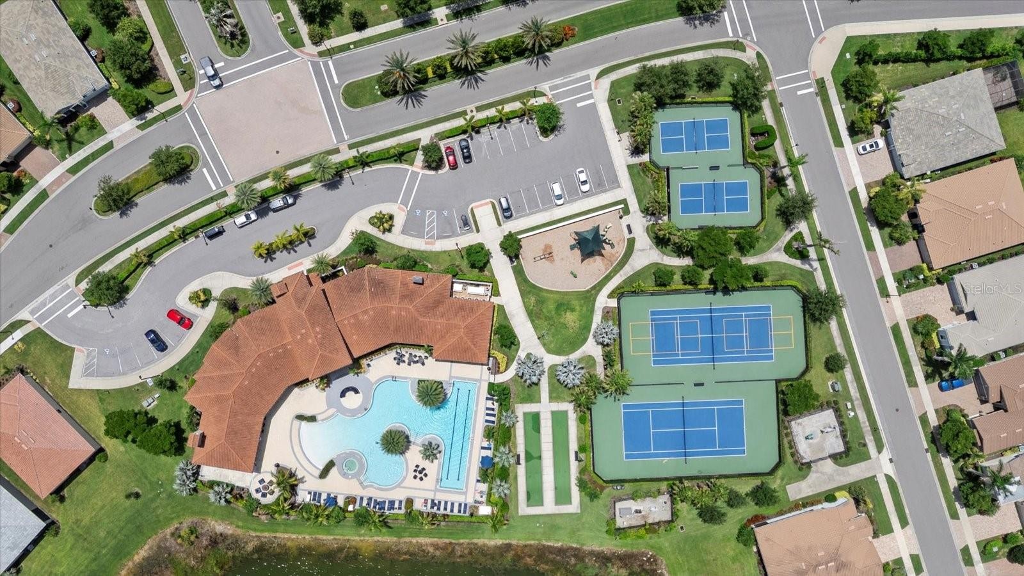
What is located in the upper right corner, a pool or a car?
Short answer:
car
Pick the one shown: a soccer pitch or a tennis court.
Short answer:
tennis court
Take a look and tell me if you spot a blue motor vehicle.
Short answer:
Yes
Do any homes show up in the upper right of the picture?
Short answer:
Yes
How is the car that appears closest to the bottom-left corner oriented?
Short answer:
diagonally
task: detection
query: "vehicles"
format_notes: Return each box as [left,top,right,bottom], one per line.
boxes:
[550,182,564,207]
[498,195,513,221]
[460,214,471,231]
[233,210,260,227]
[576,167,590,194]
[144,329,167,352]
[856,139,883,155]
[202,224,227,239]
[940,376,975,392]
[268,195,297,211]
[459,138,472,164]
[445,146,458,171]
[200,55,223,89]
[167,309,194,329]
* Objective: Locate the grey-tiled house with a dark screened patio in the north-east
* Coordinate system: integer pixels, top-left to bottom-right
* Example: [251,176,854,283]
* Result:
[885,60,1024,179]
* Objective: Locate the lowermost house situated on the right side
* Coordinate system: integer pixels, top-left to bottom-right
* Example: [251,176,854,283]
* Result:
[752,499,886,576]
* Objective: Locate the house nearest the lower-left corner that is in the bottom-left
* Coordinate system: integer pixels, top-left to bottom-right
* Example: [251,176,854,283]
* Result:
[0,461,53,573]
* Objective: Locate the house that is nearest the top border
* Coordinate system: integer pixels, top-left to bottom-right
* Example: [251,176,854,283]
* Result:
[0,0,115,119]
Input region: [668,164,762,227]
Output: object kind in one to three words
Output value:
sports court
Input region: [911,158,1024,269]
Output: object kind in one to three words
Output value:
house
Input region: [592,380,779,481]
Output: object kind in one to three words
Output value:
tennis court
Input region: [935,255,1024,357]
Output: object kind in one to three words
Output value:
house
